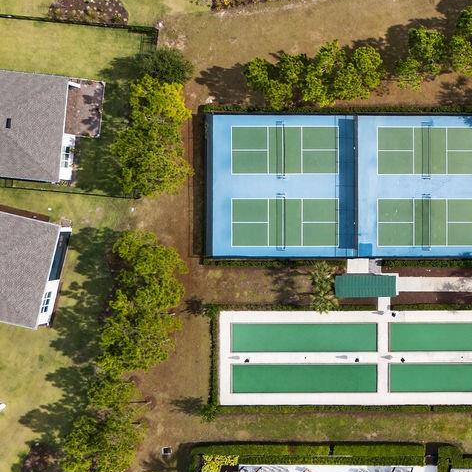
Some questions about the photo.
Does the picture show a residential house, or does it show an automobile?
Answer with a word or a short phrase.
residential house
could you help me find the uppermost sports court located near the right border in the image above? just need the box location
[377,120,472,180]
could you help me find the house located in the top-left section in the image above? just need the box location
[0,69,76,183]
